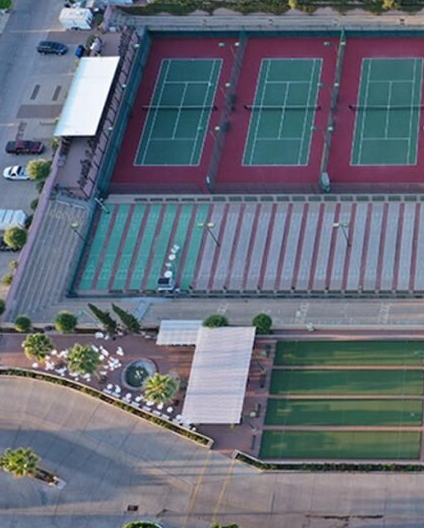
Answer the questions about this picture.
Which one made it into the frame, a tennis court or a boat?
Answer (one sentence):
There is a tennis court in the scene.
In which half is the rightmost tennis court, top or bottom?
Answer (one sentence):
The top half of the photo is where the rightmost tennis court is.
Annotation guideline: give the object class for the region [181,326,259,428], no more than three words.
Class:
building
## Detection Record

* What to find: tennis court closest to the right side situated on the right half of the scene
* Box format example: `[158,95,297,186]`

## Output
[327,35,424,186]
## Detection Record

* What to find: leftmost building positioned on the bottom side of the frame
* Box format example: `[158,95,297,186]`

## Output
[155,321,201,351]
